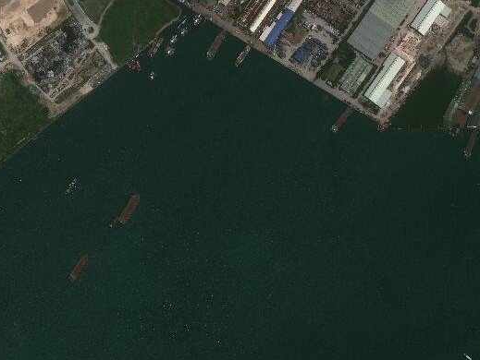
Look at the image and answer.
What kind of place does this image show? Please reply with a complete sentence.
This looks like a port.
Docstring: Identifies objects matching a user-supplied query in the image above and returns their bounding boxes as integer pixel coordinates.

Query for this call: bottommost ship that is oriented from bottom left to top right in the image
[69,254,89,280]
